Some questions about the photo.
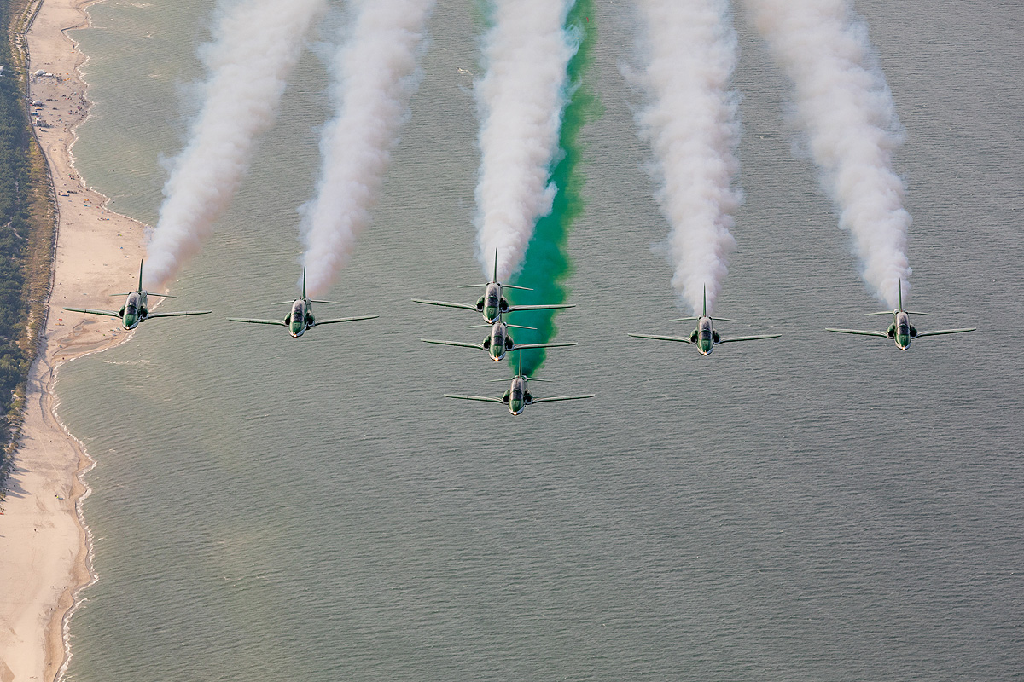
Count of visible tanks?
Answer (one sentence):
I count no tanks.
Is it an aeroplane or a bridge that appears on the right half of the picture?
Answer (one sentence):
The feature located on the right half of the picture is an aeroplane.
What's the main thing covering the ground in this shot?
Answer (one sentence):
The largest share of the image is taken up by water.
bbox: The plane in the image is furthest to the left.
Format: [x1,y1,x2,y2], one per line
[64,258,212,329]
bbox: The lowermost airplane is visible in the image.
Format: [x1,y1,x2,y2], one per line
[442,347,594,416]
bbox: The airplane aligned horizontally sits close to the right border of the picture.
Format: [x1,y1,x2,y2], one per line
[824,277,976,348]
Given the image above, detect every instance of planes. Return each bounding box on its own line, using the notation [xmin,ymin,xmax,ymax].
[64,258,212,329]
[227,264,378,336]
[627,281,781,354]
[422,313,579,360]
[442,347,594,416]
[824,277,976,348]
[411,245,575,323]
